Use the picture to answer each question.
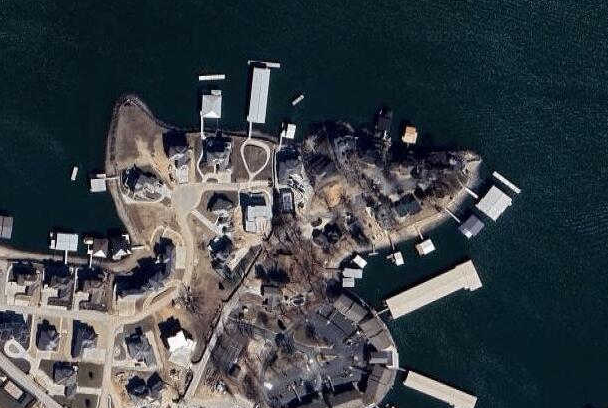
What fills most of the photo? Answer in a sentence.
The largest share of the image is taken up by water.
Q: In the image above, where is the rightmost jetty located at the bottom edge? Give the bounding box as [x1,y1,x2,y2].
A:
[396,367,477,408]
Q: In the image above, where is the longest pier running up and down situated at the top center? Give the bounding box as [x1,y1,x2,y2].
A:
[247,62,281,141]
